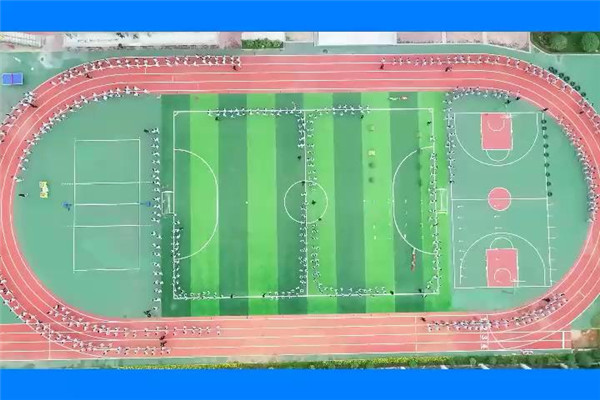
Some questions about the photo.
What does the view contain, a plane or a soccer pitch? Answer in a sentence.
The image shows a soccer pitch.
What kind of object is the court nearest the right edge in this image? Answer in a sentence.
In the photo, the court nearest the right edge shows up as a basketball court.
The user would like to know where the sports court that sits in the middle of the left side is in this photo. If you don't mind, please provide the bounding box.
[62,139,151,271]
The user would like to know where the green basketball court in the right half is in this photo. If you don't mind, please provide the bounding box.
[445,110,553,292]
